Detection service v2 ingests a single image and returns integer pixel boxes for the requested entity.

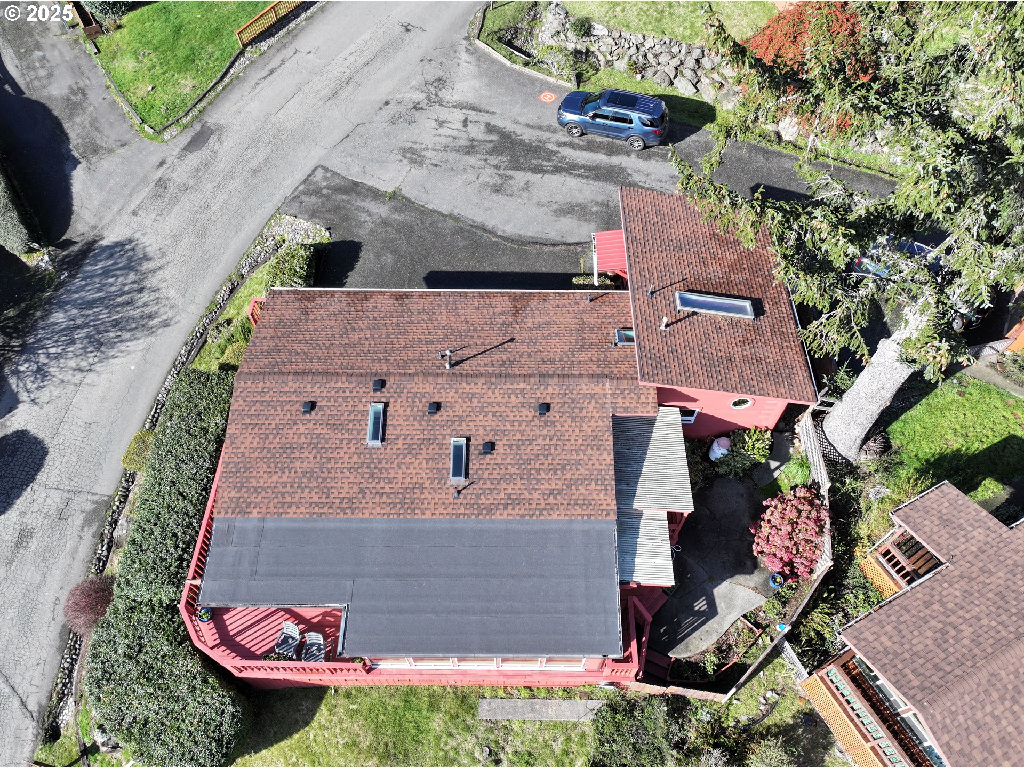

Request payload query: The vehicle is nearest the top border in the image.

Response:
[554,83,671,149]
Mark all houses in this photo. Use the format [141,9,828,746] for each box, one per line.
[197,186,821,675]
[819,481,1024,768]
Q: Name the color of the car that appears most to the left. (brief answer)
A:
blue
